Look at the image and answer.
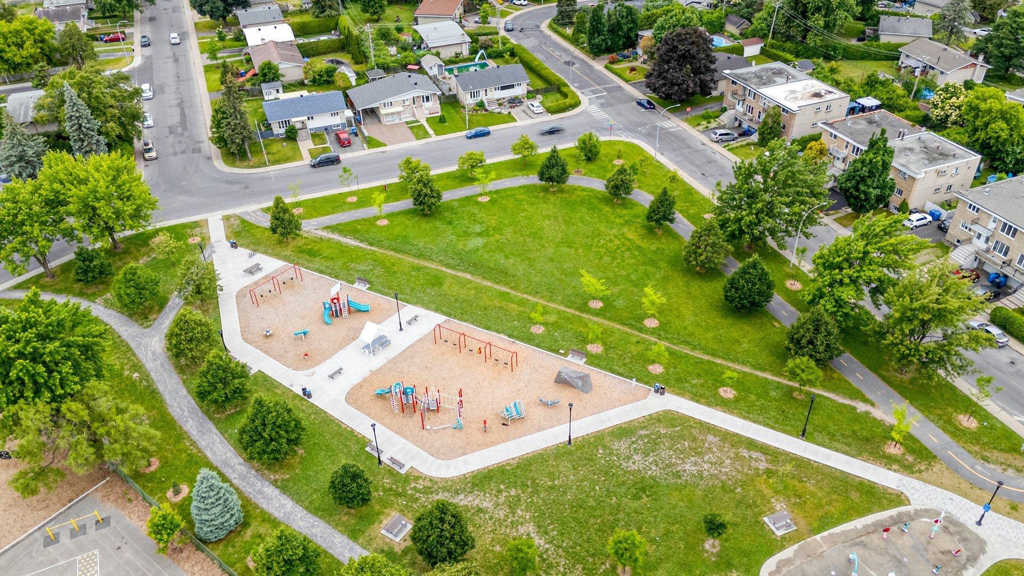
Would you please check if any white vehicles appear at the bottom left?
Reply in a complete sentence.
No, at the bottom left there is no white vehicle.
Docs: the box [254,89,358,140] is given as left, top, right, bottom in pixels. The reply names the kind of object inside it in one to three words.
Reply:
house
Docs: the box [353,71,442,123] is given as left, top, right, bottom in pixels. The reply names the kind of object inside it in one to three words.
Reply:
house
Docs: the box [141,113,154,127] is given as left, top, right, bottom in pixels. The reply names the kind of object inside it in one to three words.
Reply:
vehicle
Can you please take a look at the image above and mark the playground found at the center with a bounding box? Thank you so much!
[285,264,654,389]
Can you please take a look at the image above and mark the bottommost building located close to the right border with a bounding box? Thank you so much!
[939,172,1024,285]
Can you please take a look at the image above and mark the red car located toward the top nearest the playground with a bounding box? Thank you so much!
[336,132,351,145]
